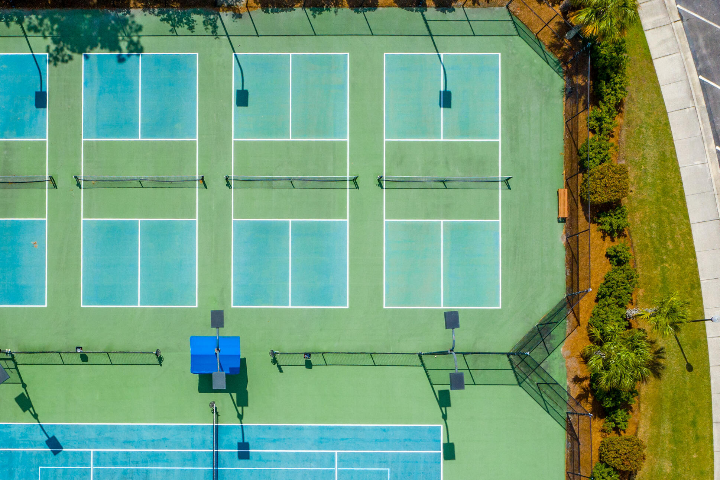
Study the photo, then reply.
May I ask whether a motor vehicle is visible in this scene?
No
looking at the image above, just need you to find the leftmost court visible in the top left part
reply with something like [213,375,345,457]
[0,54,47,139]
